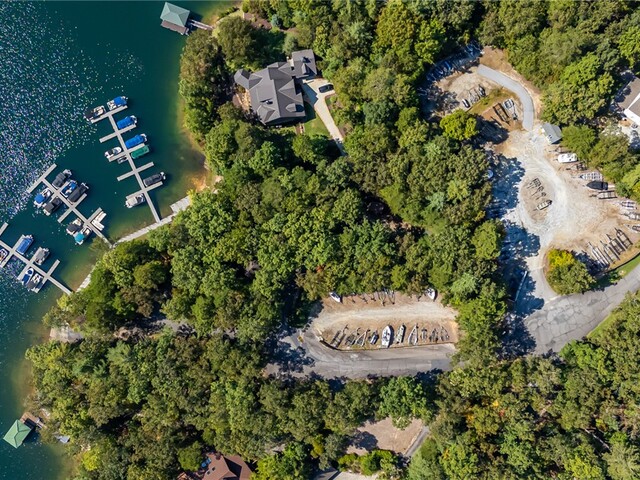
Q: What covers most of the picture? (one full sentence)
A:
The bulk of the photo consists of trees.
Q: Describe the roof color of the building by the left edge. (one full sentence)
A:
From above, the roof of the building by the left edge looks green.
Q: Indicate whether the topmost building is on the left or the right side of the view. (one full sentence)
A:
The topmost building is on the left side of the image.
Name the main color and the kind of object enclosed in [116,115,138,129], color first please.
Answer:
blue boat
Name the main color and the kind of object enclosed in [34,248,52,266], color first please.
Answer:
gray boat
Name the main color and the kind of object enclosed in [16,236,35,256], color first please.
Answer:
blue boat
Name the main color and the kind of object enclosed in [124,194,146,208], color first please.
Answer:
white boat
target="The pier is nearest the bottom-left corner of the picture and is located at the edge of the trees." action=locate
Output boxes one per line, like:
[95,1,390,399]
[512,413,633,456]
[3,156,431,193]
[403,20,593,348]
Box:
[0,222,73,297]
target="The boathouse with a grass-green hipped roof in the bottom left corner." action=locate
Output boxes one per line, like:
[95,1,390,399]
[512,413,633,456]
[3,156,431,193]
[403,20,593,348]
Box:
[3,411,44,448]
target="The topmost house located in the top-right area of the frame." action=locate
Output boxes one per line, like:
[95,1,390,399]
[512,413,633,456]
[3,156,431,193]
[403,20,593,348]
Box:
[611,78,640,124]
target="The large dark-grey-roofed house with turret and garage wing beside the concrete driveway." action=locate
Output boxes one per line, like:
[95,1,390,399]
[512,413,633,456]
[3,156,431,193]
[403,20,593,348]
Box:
[232,54,318,131]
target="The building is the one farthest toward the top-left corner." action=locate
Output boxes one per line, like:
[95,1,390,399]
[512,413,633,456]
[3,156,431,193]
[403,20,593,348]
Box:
[160,1,211,35]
